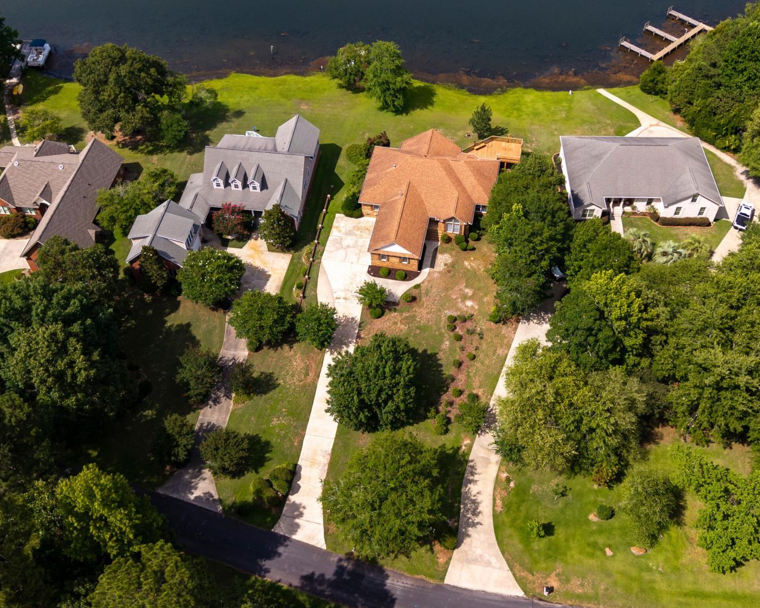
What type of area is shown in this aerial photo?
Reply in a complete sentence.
This image shows a residential area.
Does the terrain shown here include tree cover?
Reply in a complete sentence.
Yes, some tree cover is visible.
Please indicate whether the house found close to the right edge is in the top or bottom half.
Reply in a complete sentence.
It is in the top half that the house found close to the right edge appears.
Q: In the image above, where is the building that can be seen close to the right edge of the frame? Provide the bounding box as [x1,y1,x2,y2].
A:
[559,135,726,225]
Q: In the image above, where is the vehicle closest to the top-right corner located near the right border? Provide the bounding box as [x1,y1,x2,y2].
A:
[734,202,755,228]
